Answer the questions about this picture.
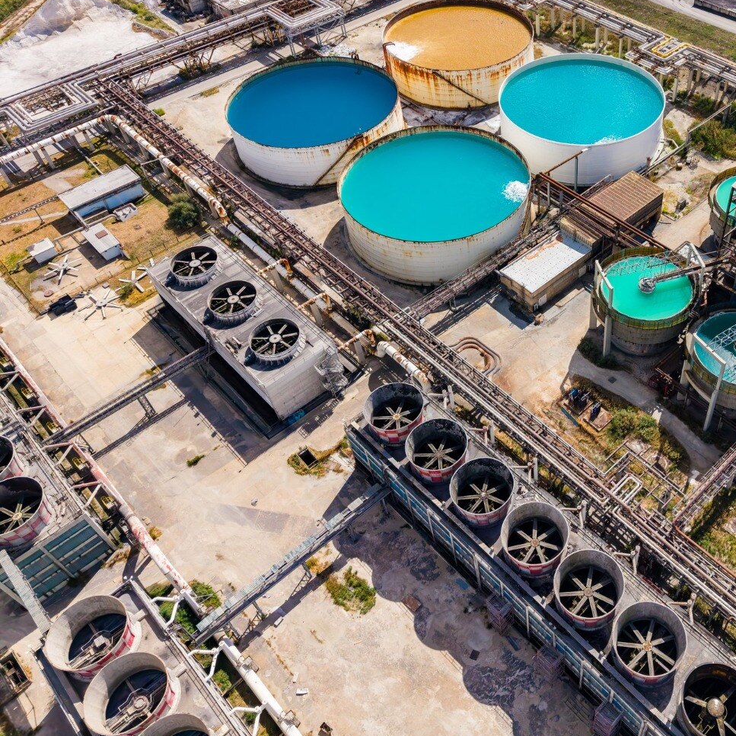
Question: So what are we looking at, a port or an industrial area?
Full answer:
This looks like an industrial area.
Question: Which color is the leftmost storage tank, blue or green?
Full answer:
From above, the leftmost storage tank appears blue.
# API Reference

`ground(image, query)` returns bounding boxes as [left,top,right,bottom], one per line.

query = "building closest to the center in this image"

[497,230,594,313]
